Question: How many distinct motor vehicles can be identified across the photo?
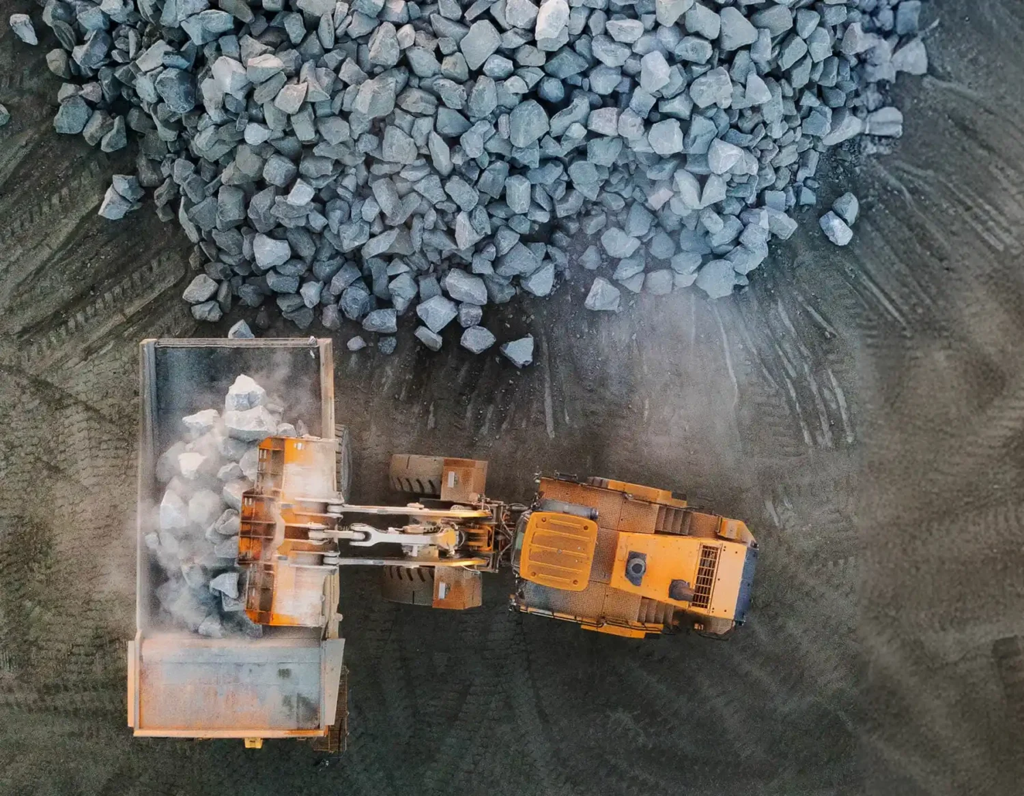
2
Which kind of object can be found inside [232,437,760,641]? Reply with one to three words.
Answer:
work vehicle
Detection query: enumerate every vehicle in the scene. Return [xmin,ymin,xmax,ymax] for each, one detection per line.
[128,338,363,768]
[232,437,760,641]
